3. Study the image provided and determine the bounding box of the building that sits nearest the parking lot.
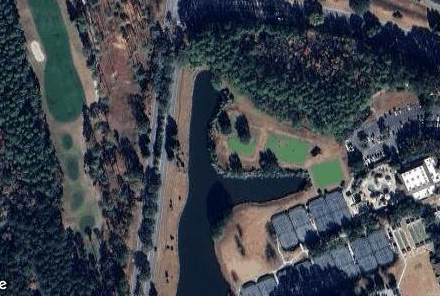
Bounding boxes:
[401,157,440,198]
